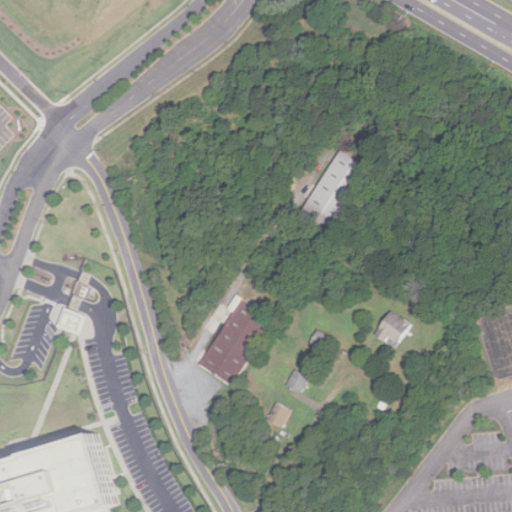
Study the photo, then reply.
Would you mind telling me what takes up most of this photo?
trees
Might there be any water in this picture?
No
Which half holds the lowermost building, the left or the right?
left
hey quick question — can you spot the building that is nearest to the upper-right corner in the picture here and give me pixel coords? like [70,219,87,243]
[304,151,360,223]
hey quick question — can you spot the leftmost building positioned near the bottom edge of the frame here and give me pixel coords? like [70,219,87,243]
[0,431,120,512]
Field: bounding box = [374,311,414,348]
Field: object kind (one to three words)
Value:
house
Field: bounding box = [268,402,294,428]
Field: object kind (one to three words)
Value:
house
